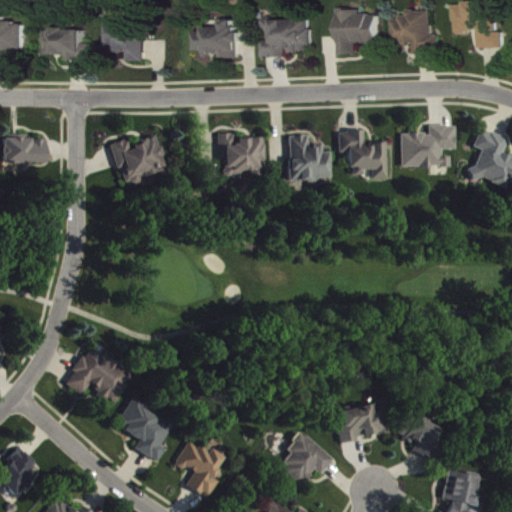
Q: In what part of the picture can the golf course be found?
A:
center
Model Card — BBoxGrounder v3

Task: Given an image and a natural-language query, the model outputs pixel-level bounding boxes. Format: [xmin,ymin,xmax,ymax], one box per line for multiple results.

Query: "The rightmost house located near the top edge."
[445,1,502,48]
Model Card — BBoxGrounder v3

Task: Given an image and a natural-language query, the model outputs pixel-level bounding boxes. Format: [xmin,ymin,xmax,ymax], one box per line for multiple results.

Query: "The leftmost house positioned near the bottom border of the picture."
[0,442,44,503]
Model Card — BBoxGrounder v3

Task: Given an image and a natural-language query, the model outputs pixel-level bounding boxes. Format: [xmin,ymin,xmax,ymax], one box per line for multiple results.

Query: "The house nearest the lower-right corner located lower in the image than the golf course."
[444,469,486,512]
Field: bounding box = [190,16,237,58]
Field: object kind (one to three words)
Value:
house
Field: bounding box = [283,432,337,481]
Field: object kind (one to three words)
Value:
house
